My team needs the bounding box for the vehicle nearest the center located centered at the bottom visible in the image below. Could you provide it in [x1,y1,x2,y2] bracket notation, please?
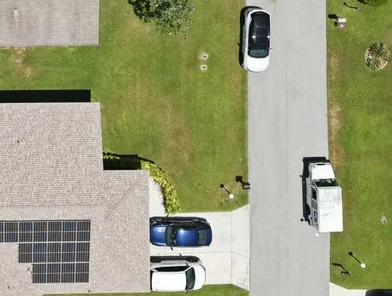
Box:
[149,216,212,249]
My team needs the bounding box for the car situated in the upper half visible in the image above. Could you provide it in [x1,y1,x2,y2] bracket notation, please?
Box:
[239,8,273,72]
